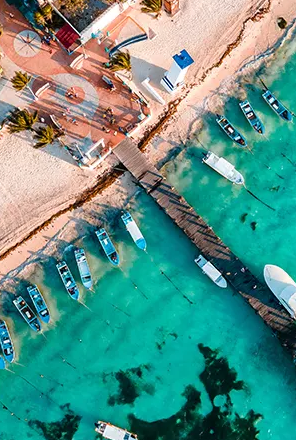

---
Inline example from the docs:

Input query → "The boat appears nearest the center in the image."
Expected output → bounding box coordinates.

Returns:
[121,210,145,250]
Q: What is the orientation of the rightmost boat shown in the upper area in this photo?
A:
at an angle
